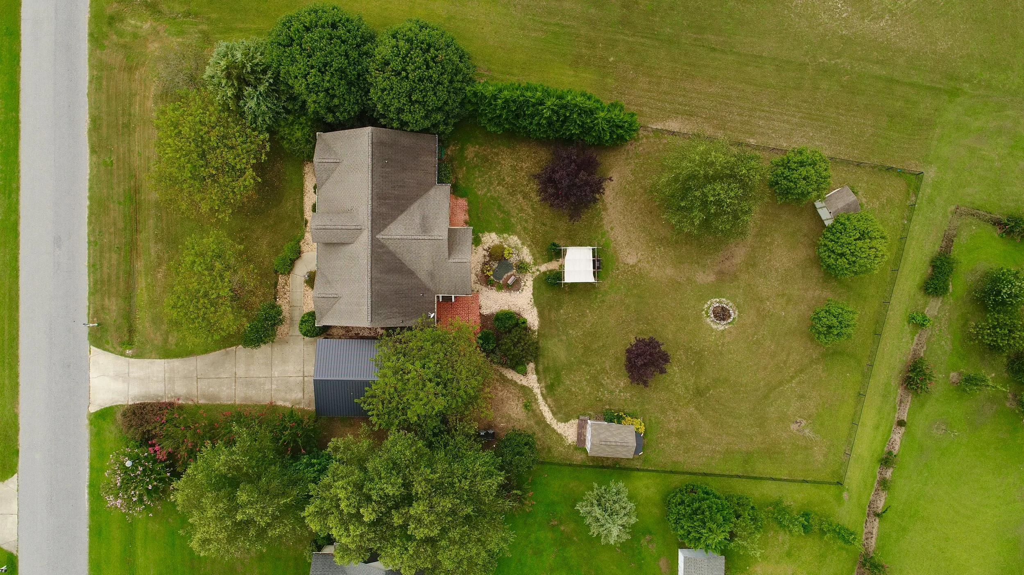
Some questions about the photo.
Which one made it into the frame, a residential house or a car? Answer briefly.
residential house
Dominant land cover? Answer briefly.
grass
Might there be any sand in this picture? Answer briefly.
No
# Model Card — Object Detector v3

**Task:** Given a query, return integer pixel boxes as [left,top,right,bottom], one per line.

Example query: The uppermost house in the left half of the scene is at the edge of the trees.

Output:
[309,126,472,327]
